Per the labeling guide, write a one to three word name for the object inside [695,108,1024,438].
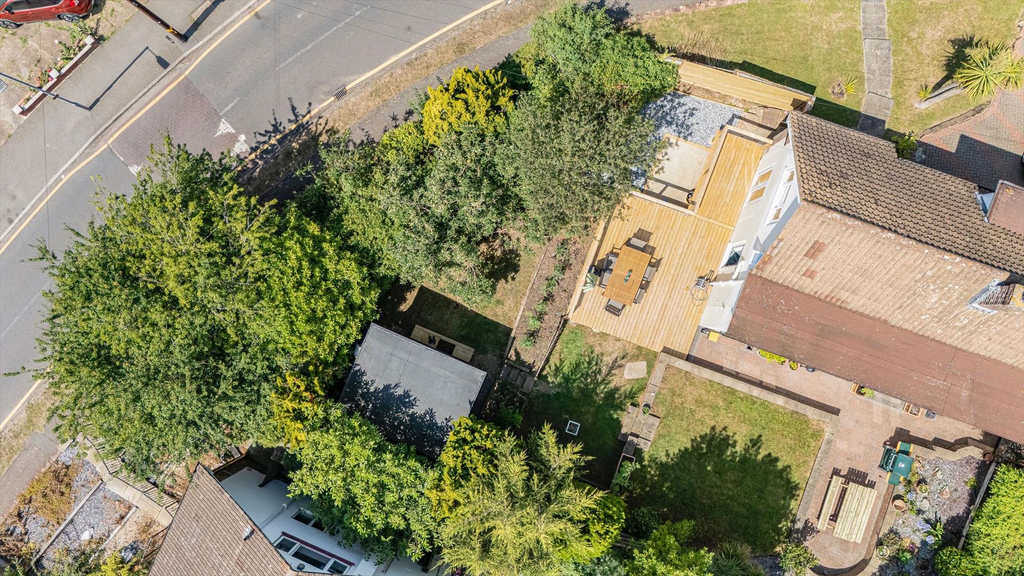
house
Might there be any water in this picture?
No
